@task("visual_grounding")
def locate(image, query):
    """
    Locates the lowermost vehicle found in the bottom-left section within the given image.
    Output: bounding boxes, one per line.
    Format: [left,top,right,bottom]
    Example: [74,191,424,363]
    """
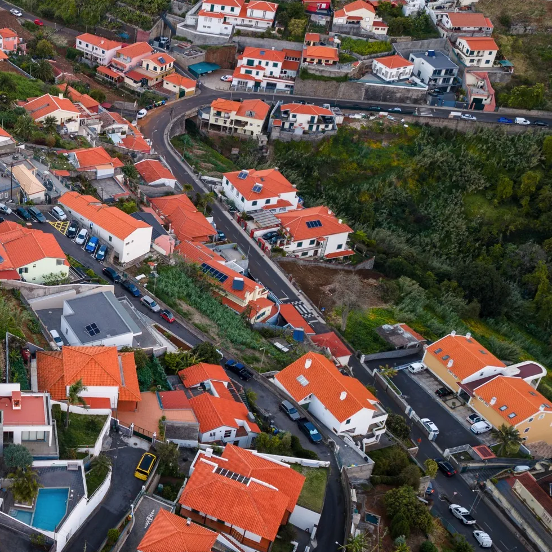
[135,452,156,479]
